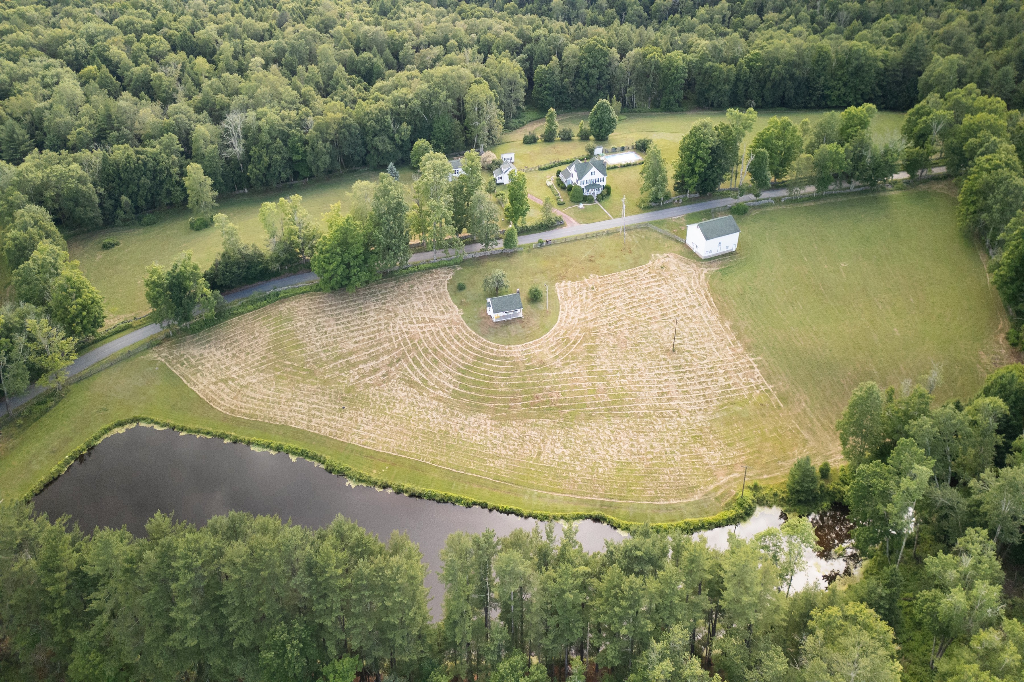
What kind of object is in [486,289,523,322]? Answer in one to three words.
house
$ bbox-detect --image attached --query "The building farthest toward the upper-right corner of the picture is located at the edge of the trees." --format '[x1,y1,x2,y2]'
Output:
[682,213,742,259]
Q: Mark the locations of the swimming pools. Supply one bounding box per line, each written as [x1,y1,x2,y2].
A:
[598,152,641,164]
